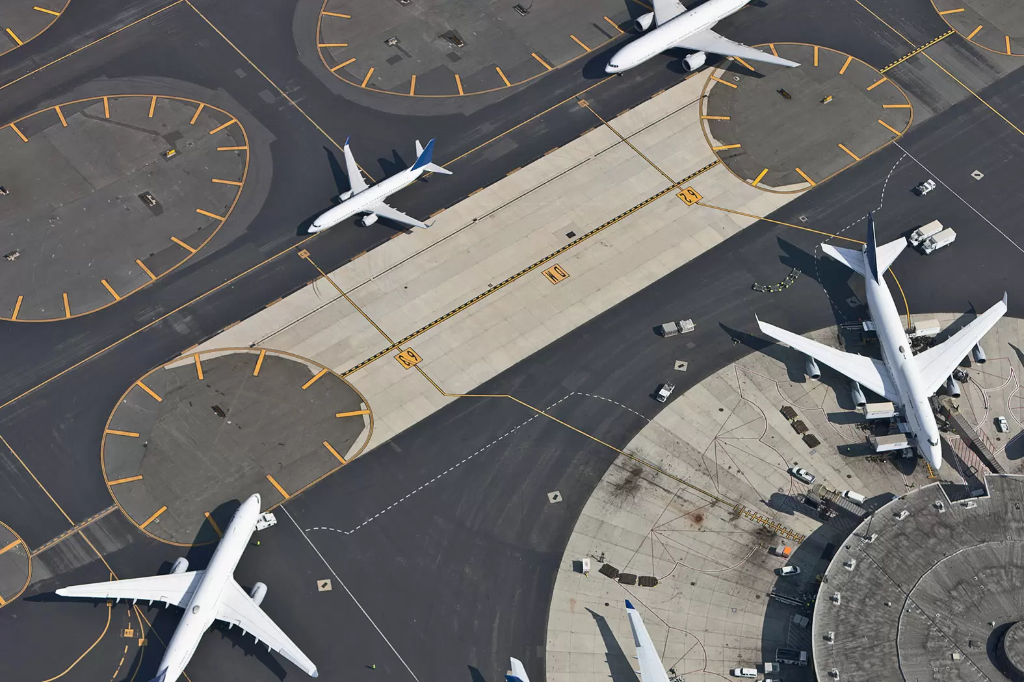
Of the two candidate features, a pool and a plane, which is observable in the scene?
plane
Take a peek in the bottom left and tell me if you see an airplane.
Yes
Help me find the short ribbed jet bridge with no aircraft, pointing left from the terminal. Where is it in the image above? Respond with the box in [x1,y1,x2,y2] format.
[805,482,869,521]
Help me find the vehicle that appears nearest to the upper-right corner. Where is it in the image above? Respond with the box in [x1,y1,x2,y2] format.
[916,175,938,192]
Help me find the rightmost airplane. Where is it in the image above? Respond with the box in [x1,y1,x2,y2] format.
[759,209,1010,470]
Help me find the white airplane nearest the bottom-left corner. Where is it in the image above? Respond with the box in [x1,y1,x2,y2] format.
[54,494,316,682]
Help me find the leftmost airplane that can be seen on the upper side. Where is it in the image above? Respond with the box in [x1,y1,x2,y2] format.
[308,136,453,232]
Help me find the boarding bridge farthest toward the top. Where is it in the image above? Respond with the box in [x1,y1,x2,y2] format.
[929,395,1006,472]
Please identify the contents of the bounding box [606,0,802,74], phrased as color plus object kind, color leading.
white airplane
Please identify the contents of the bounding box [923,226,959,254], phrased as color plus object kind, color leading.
white truck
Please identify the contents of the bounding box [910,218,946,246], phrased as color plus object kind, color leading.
white truck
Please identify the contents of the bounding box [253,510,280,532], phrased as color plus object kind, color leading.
white work vehicle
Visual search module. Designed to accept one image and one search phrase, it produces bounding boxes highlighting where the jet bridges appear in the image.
[805,482,869,521]
[929,395,1006,472]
